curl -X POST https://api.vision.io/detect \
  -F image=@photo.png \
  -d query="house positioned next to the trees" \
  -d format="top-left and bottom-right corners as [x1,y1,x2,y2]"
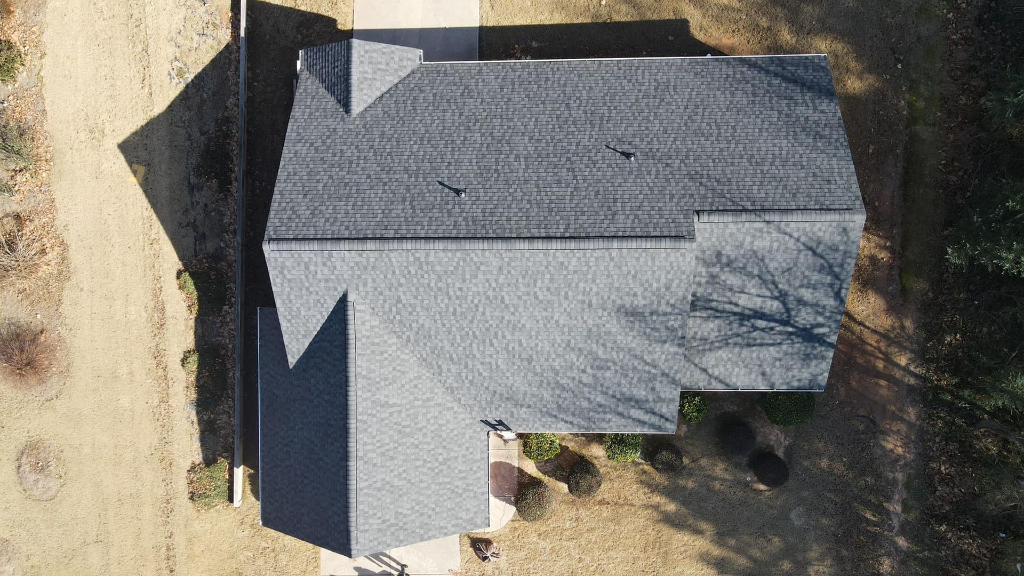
[258,38,864,561]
